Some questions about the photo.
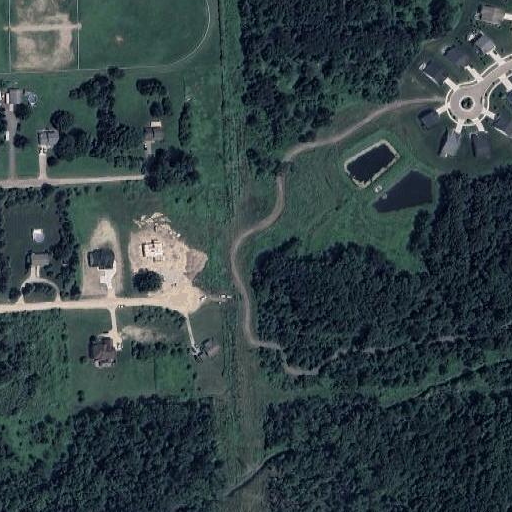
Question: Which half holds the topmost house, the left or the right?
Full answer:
You can find the topmost house on the right side of the picture.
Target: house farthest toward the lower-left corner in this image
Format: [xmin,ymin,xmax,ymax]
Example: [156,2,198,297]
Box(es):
[90,337,115,365]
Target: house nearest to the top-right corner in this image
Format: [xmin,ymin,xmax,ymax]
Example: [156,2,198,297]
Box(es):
[479,5,506,26]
